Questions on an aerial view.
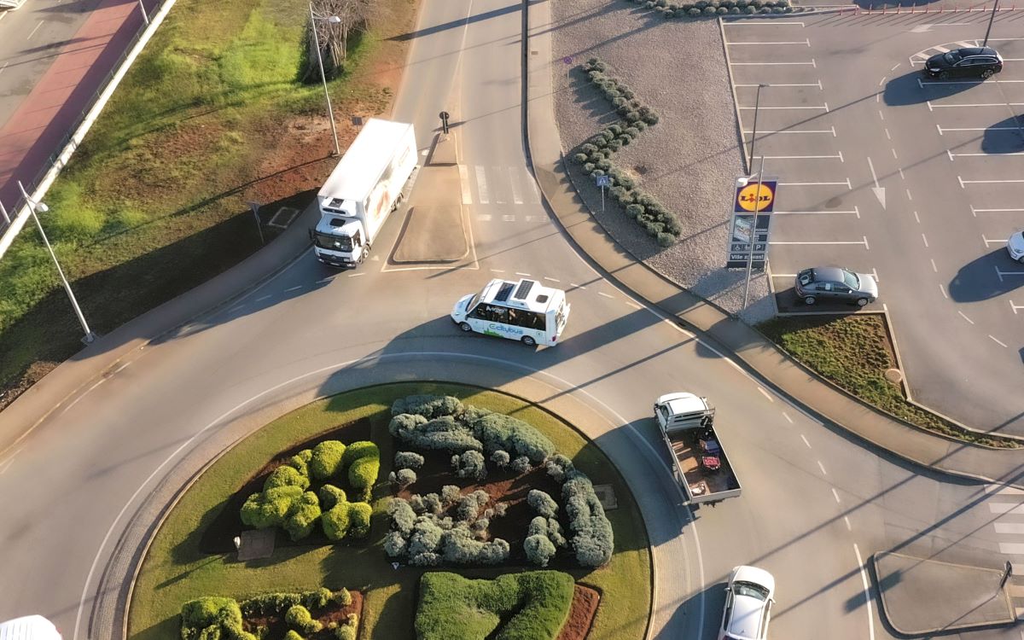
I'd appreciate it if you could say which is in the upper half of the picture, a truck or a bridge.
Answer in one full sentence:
Looking in the upper half of the picture, you will find a truck.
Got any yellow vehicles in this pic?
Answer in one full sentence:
No, the photo shows no yellow vehicle.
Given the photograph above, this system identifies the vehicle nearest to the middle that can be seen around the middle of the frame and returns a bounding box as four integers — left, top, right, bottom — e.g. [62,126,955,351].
[449,275,573,347]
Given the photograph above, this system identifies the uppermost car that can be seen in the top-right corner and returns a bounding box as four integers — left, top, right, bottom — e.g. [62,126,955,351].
[925,46,1005,79]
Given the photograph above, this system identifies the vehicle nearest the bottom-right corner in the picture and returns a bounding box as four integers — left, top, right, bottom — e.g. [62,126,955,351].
[719,570,778,640]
